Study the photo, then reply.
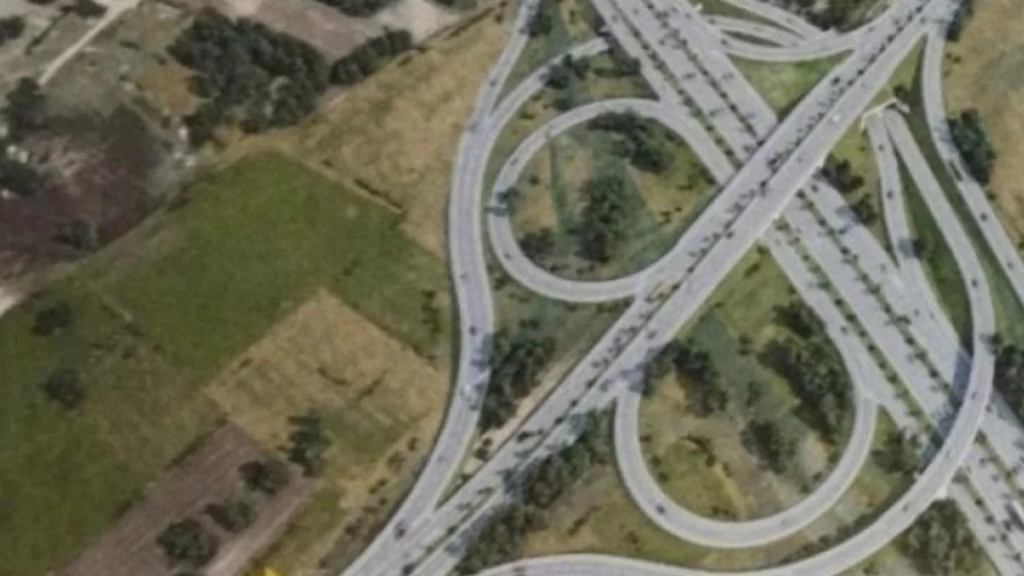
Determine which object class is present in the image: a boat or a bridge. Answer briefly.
bridge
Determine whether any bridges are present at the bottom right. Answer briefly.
Yes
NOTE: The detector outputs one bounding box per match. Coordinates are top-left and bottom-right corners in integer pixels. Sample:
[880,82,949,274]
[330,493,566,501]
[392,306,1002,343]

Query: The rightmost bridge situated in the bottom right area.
[907,348,995,495]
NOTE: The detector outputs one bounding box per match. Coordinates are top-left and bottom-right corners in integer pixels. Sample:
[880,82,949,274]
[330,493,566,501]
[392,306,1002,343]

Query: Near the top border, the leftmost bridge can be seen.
[593,0,715,41]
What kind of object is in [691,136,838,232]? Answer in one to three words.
bridge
